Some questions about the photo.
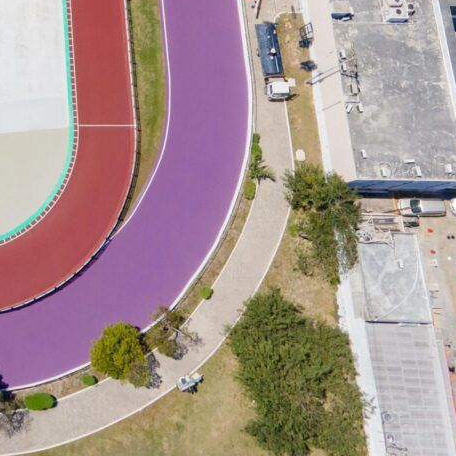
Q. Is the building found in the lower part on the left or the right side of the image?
right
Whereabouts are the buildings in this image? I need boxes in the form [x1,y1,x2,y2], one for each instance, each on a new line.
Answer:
[342,232,456,456]
[308,0,456,195]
